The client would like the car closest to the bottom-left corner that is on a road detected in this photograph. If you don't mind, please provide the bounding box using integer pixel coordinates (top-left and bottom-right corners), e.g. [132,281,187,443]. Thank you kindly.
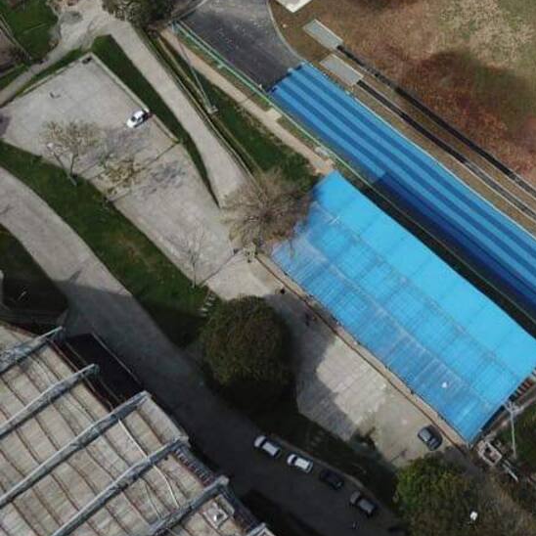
[252,435,283,459]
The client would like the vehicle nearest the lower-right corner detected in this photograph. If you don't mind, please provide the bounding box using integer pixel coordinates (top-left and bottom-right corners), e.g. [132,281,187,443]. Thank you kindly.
[417,426,442,450]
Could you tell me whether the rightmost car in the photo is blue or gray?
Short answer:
gray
